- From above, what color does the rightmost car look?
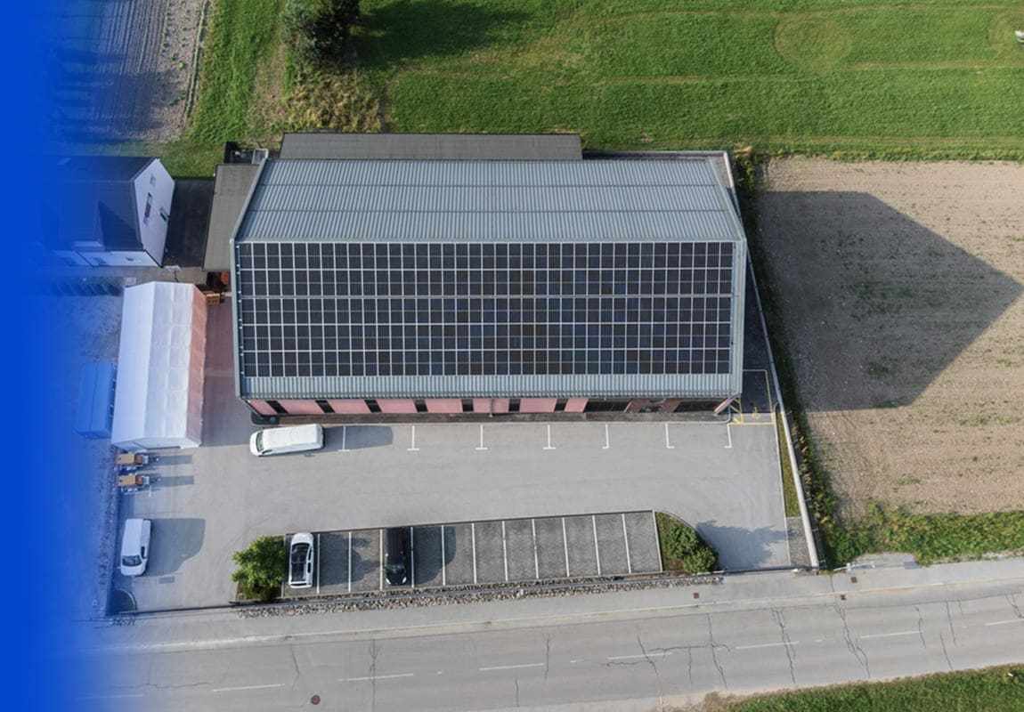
black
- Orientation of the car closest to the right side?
from top to bottom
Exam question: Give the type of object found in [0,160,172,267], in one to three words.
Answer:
house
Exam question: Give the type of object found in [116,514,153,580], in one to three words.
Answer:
van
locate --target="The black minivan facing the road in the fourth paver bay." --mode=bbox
[380,524,408,588]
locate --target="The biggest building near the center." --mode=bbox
[230,155,747,419]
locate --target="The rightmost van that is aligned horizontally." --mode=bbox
[254,420,325,455]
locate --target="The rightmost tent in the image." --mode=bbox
[112,279,206,453]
